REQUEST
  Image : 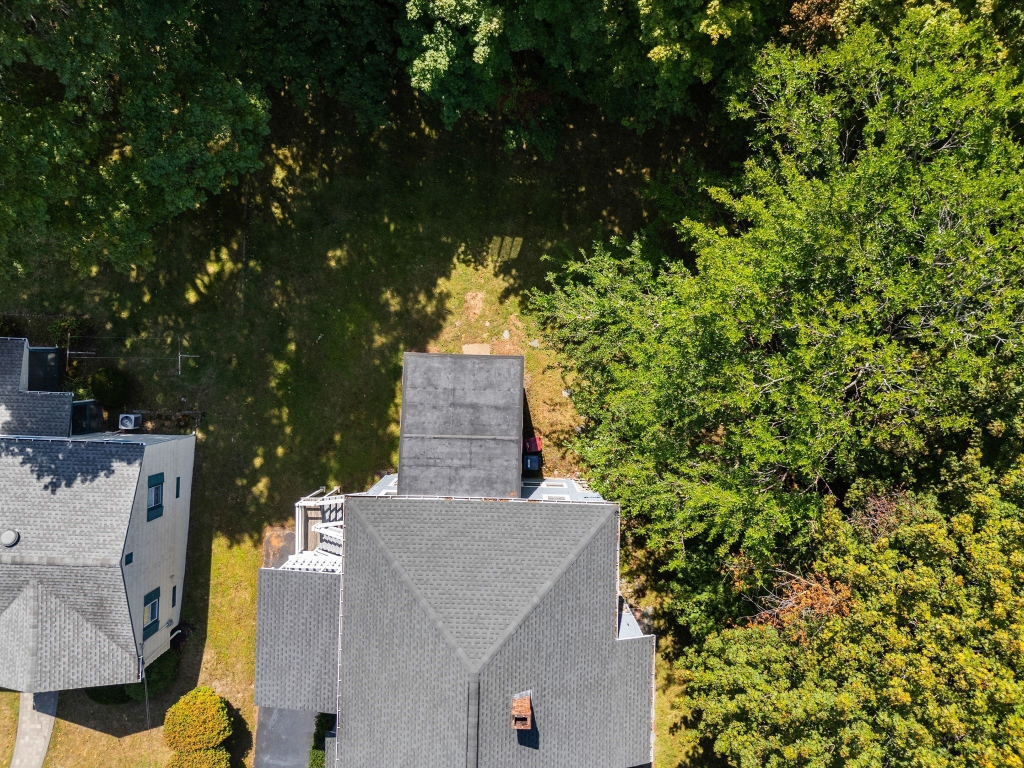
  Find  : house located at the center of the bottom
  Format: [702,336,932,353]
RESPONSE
[256,353,657,768]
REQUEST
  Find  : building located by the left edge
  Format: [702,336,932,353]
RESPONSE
[0,334,194,691]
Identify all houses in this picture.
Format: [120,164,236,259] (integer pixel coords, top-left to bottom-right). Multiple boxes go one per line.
[0,334,194,691]
[256,353,657,768]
